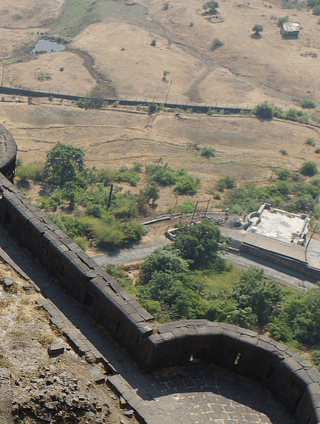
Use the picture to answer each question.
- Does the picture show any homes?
Yes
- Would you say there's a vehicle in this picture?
No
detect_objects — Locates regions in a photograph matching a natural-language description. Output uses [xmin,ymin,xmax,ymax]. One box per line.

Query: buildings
[241,201,312,262]
[275,21,303,39]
